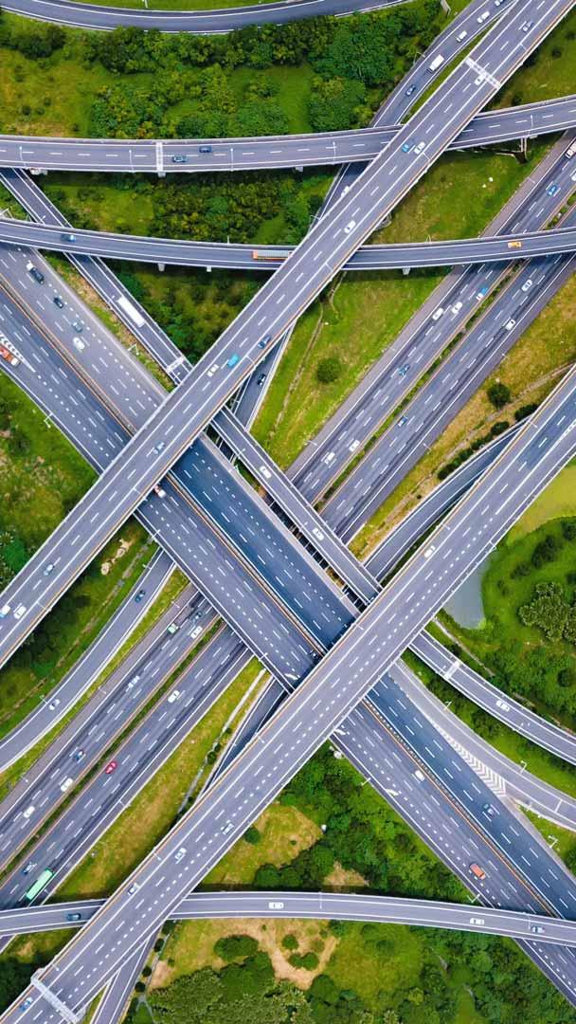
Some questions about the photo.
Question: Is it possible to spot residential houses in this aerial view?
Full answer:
No, the scene contains no residential house.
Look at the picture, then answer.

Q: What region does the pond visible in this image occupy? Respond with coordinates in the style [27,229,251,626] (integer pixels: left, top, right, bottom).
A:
[440,552,490,629]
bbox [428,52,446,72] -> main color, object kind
white vehicle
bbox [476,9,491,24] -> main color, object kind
white vehicle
